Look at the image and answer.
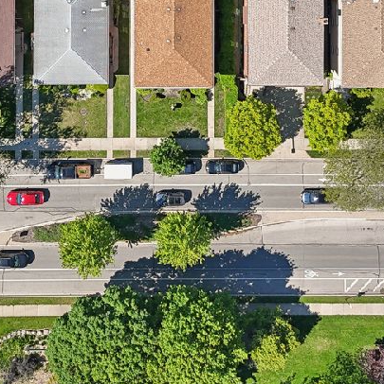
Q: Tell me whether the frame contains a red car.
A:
Yes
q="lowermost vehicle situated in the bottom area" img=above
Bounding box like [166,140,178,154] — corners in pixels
[0,250,30,269]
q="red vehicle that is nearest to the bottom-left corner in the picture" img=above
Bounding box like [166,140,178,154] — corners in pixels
[9,190,44,206]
